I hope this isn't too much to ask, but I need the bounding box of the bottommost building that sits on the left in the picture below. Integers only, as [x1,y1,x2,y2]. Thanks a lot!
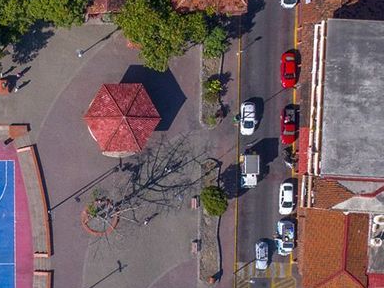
[83,84,160,162]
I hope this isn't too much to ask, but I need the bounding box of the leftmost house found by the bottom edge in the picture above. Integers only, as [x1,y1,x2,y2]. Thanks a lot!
[298,208,369,288]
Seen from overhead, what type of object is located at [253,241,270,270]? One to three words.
car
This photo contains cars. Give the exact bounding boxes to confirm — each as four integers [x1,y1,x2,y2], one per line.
[278,53,299,89]
[253,241,270,270]
[274,219,296,256]
[238,103,258,136]
[277,182,295,215]
[278,105,299,145]
[279,0,299,11]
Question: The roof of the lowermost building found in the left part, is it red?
Yes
